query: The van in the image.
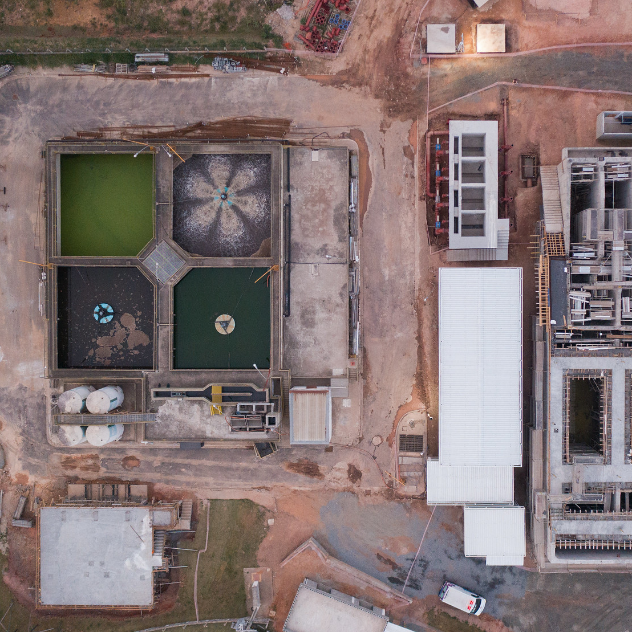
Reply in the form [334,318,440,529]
[439,580,486,614]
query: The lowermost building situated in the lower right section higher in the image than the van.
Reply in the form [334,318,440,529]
[462,500,526,557]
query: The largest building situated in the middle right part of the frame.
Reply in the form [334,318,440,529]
[438,268,522,467]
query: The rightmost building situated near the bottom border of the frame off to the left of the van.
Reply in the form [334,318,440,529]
[282,570,390,632]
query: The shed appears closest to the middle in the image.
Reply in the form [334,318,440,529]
[290,386,346,445]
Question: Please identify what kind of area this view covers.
industrial area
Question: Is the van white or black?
white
